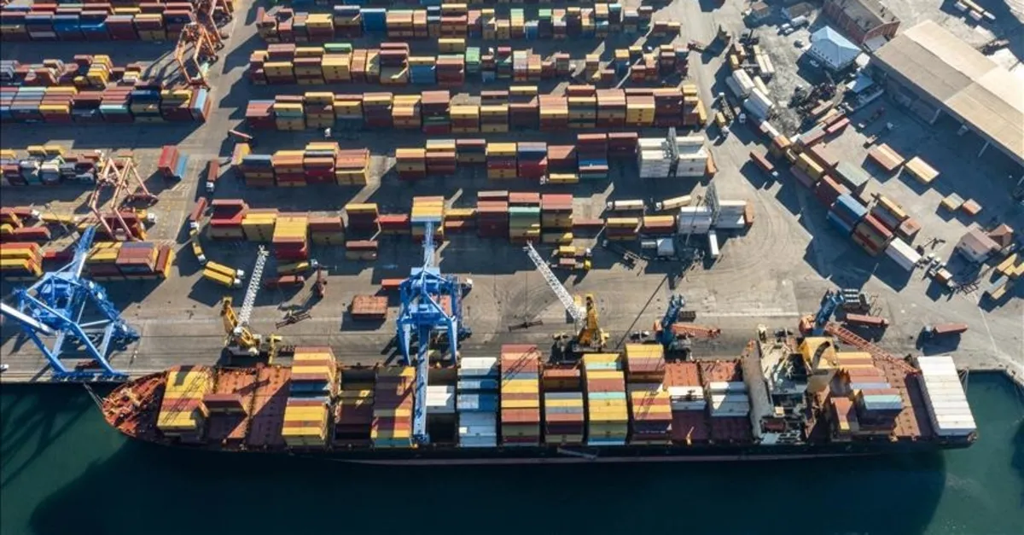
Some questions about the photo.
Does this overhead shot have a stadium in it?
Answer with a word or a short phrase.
No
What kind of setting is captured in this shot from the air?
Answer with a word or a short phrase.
port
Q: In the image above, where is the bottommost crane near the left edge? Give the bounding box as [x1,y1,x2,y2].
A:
[0,213,139,373]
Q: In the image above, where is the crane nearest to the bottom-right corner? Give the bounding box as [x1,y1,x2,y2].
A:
[797,288,916,375]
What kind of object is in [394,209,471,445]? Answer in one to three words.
container crane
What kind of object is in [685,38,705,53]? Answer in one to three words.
vehicle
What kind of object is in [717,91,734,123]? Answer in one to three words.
vehicle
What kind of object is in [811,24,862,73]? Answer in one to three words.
house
